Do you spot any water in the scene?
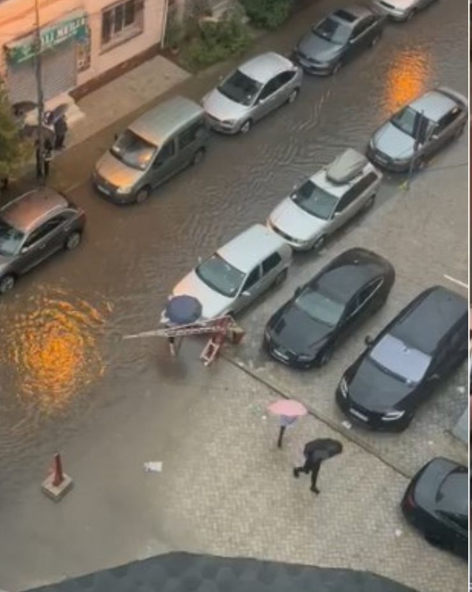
Yes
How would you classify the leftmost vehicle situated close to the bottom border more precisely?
automobile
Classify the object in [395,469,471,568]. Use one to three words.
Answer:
car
